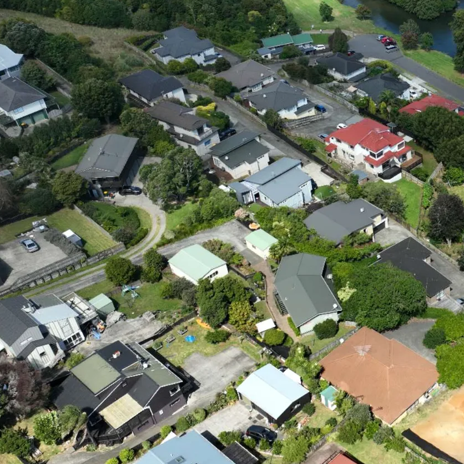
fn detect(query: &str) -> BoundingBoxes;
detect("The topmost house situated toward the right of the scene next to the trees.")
[258,34,313,63]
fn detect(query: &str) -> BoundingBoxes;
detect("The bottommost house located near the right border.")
[320,331,442,431]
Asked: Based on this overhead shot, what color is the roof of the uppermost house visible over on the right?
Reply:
green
